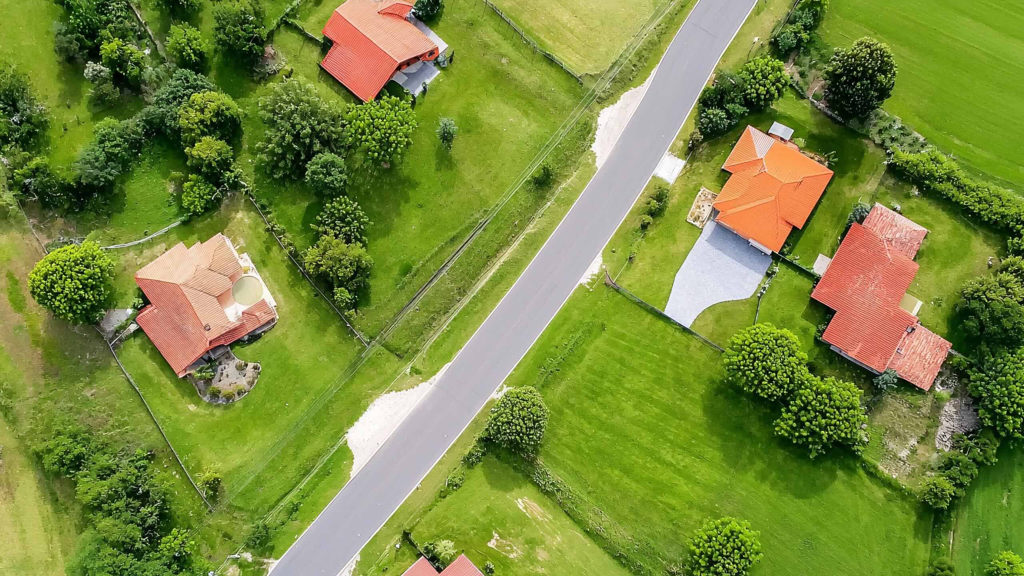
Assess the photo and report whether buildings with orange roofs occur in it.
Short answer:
Yes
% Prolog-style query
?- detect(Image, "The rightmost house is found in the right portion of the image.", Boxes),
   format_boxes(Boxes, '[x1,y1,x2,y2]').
[807,201,953,391]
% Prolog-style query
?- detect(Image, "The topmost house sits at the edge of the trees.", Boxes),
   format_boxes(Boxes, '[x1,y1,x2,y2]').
[321,0,436,103]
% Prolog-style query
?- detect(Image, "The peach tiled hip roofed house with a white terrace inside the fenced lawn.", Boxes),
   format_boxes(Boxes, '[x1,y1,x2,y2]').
[134,232,276,377]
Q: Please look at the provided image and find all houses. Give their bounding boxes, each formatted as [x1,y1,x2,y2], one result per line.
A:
[134,232,276,377]
[712,125,834,254]
[321,0,436,103]
[400,551,486,576]
[807,201,953,391]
